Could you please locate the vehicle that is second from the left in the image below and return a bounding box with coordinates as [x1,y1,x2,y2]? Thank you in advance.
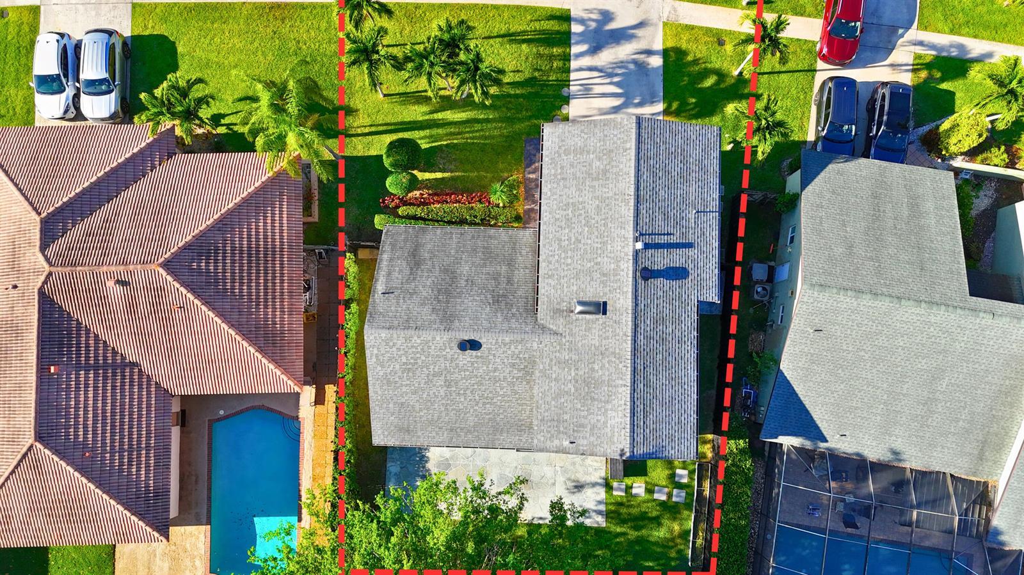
[76,31,131,123]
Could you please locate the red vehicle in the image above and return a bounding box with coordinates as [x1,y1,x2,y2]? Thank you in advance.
[815,0,867,66]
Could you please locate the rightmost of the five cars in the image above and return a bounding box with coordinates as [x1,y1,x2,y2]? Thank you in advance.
[859,80,913,165]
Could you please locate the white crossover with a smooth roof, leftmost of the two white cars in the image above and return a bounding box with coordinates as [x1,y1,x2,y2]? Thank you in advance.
[32,35,83,121]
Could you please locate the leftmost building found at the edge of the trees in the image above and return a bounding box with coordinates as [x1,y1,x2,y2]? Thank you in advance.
[0,124,308,551]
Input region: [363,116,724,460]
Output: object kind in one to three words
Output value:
house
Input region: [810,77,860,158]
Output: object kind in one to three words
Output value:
car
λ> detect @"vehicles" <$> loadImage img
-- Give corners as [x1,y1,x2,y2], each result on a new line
[32,35,83,121]
[815,0,867,66]
[76,31,131,123]
[810,77,860,158]
[859,80,913,165]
